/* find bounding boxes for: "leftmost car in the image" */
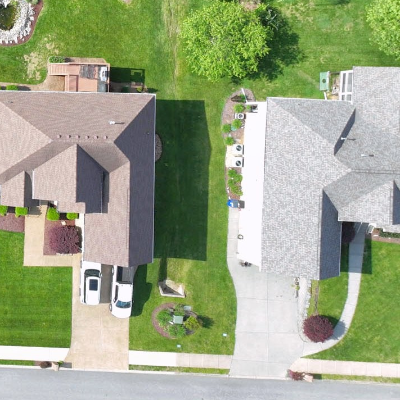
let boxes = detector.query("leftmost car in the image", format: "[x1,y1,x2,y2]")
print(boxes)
[78,256,105,307]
